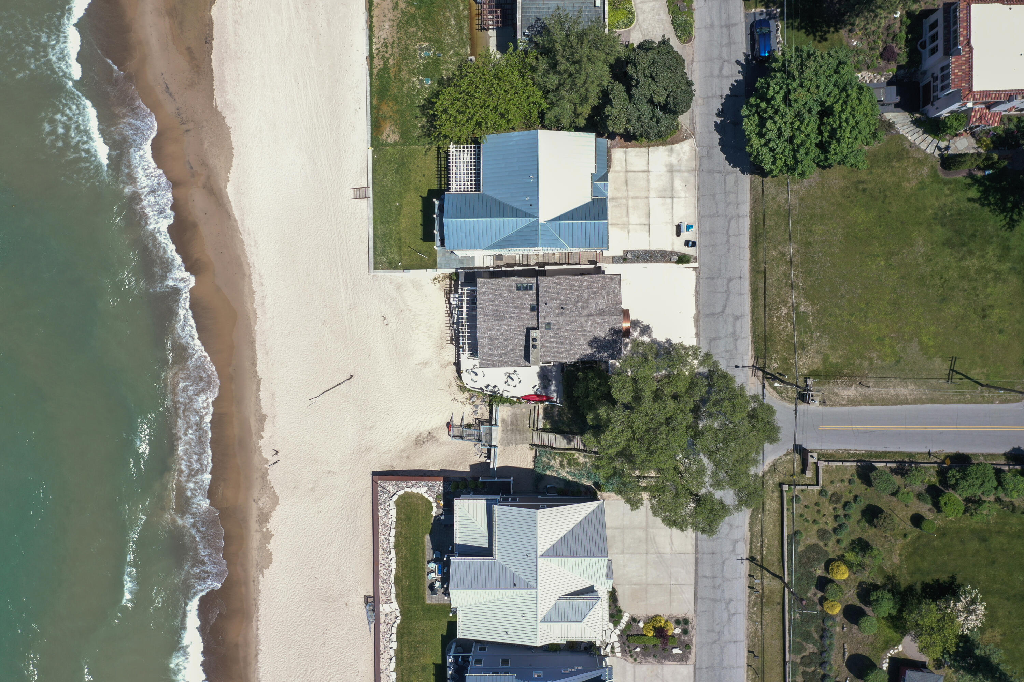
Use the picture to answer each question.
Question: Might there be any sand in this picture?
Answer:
Yes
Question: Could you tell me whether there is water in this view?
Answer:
Yes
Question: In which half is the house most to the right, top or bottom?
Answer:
top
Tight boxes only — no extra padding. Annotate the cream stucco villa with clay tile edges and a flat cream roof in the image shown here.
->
[916,0,1024,126]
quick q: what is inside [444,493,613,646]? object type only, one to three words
house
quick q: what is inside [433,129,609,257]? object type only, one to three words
house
